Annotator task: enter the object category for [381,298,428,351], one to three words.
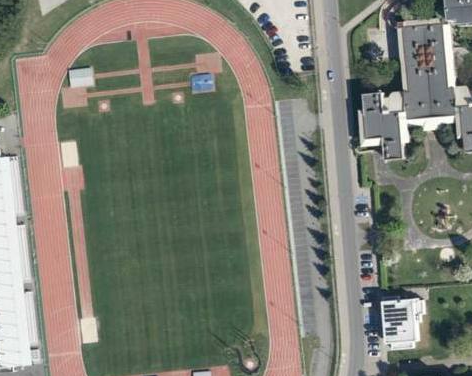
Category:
building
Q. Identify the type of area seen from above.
sports ground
